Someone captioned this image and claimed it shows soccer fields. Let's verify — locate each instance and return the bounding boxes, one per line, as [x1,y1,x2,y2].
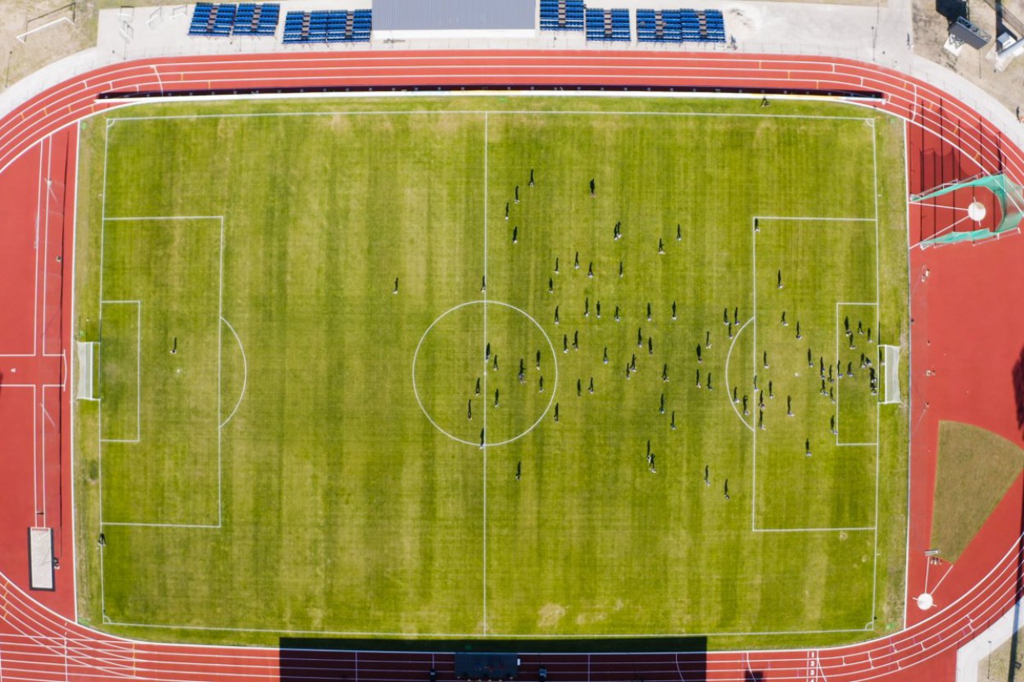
[71,95,911,653]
